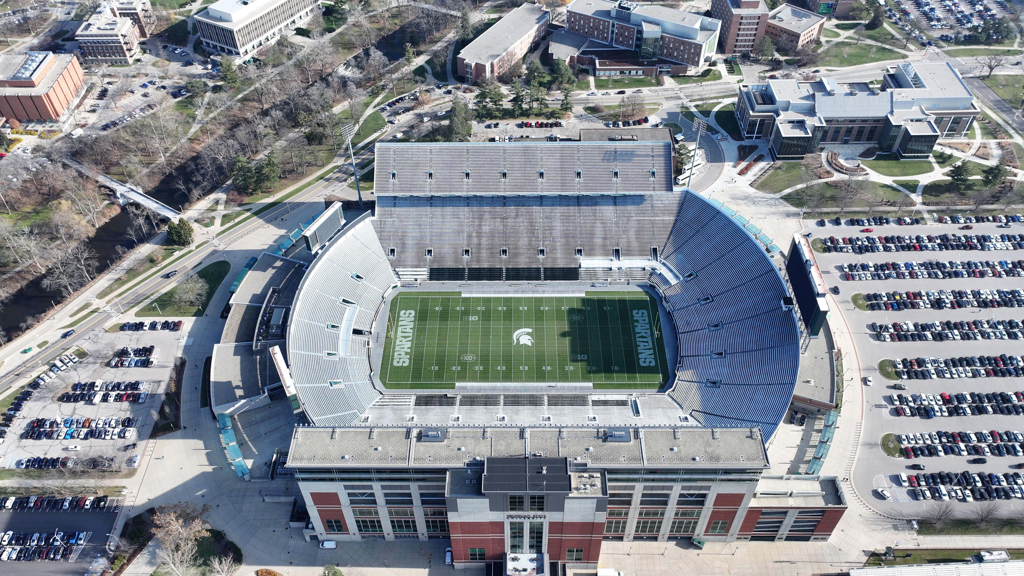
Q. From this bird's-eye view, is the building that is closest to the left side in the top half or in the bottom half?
top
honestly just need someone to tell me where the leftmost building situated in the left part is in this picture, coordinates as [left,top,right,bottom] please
[0,51,85,124]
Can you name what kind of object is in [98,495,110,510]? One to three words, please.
vehicle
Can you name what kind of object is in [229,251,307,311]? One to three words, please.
building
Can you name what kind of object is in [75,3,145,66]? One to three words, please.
building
